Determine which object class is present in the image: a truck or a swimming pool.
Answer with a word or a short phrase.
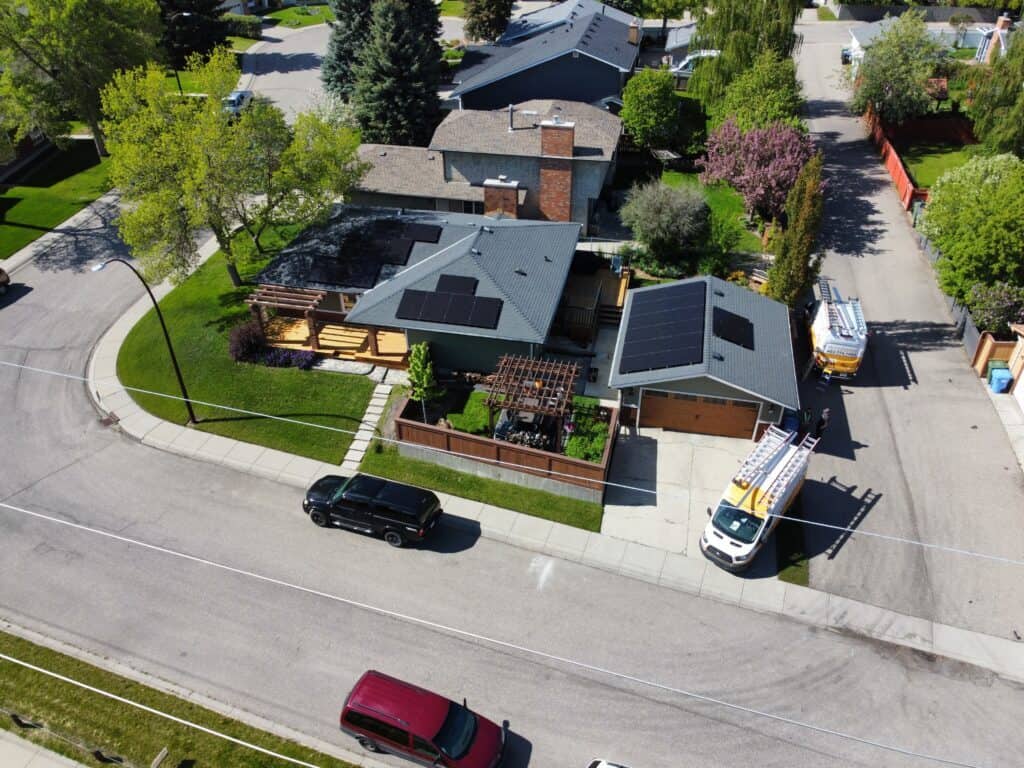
truck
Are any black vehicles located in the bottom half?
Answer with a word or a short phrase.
Yes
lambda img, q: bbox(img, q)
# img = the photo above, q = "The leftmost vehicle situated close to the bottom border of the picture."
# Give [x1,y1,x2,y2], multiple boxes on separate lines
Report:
[334,667,518,768]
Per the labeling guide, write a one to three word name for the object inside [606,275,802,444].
building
